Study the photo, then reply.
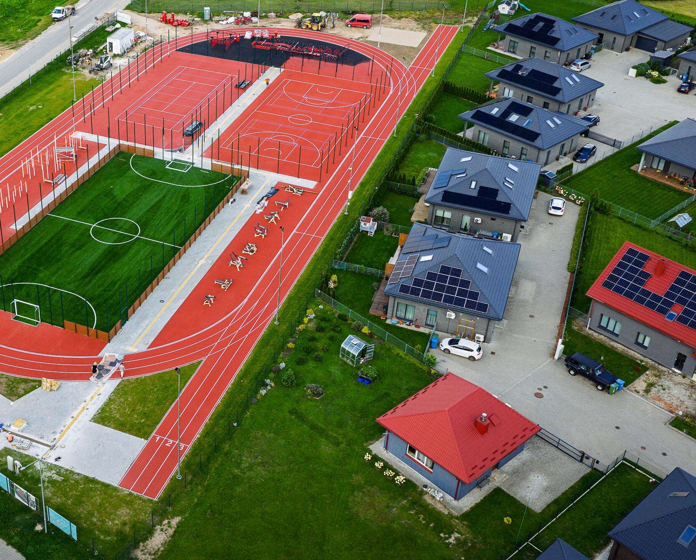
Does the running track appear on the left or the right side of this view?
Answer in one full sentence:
It is on the left.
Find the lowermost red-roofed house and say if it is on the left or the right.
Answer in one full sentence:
The lowermost red-roofed house is on the right side of the image.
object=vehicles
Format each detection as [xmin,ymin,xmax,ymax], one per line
[344,14,374,30]
[568,58,593,72]
[583,112,606,127]
[549,196,567,215]
[574,141,600,162]
[54,2,77,18]
[84,51,112,71]
[440,339,484,363]
[289,11,333,31]
[678,81,696,94]
[563,352,615,390]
